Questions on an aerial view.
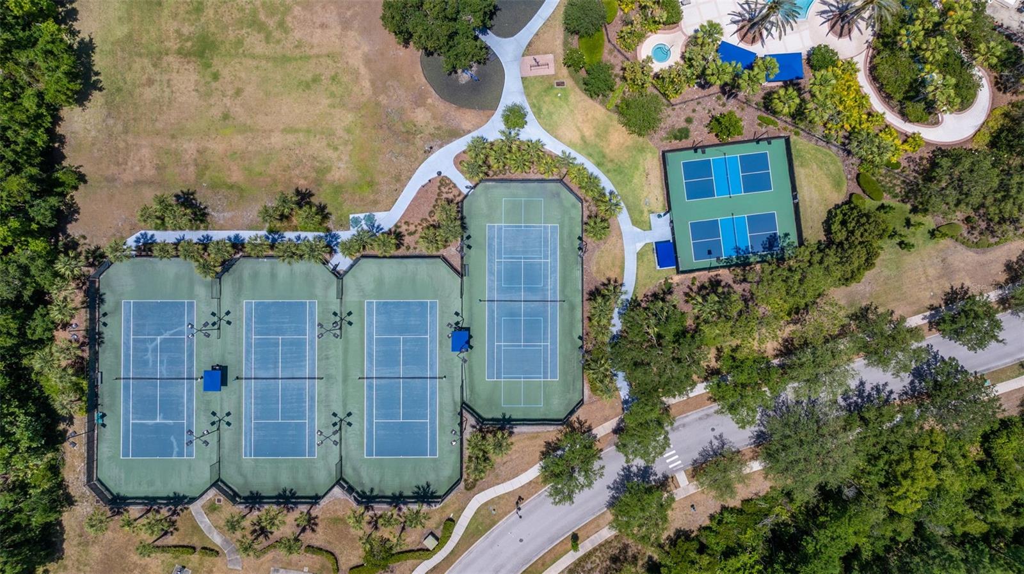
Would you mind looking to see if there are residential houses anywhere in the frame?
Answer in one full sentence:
No, no residential house can be seen from above.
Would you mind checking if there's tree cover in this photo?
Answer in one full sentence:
Yes, there is tree cover in the image.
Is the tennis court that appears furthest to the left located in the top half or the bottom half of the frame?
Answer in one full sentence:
You can find the tennis court that appears furthest to the left in the bottom half.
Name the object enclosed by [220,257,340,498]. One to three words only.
tennis court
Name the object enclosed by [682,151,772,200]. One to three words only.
sports court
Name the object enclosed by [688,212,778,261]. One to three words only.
sports court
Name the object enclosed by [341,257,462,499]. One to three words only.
tennis court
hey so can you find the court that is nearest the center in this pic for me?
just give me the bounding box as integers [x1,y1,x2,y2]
[462,181,583,421]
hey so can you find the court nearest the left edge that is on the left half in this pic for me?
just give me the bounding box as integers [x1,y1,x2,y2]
[98,258,220,498]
